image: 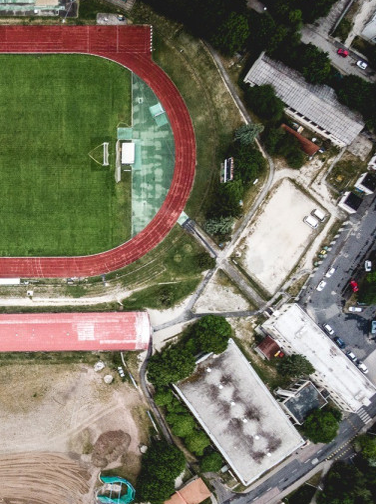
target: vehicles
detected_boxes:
[117,367,124,376]
[349,306,362,312]
[346,350,358,362]
[315,280,327,292]
[350,281,358,292]
[325,267,335,279]
[358,362,368,374]
[336,48,349,57]
[365,259,372,273]
[311,208,327,220]
[334,336,345,349]
[323,324,334,335]
[303,215,319,228]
